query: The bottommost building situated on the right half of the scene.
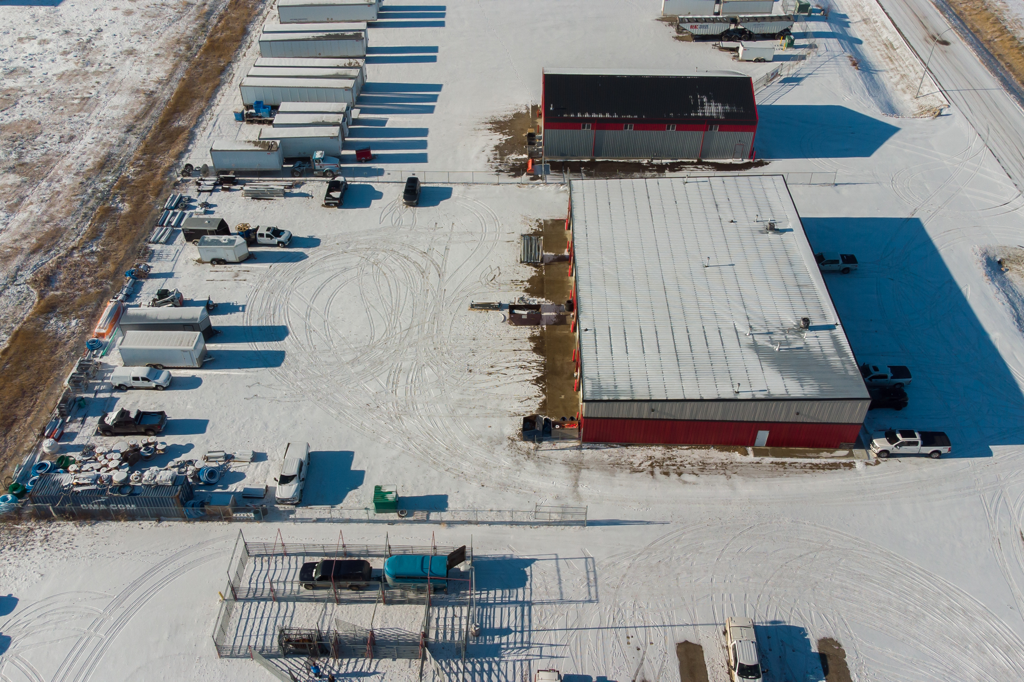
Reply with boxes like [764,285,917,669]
[568,173,873,449]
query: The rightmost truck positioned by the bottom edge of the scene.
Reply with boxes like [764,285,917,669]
[730,615,773,682]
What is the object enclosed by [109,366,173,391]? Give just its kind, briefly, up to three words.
truck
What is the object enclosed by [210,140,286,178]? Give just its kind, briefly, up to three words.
trailer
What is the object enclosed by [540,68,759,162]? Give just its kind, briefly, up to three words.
shed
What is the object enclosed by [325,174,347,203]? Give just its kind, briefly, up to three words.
truck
